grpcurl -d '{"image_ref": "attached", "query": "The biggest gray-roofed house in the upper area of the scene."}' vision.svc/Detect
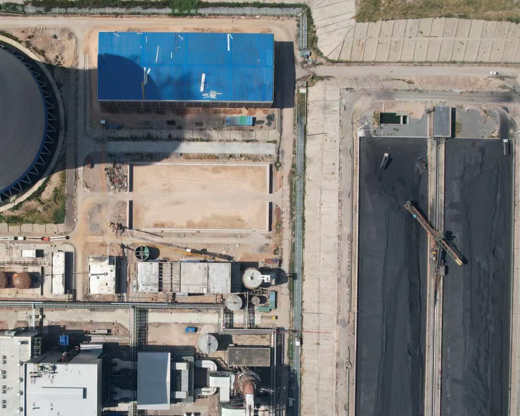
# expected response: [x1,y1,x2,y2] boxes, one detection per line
[427,107,451,138]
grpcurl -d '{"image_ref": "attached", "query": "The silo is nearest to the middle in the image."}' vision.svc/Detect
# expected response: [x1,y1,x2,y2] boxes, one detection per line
[240,268,278,289]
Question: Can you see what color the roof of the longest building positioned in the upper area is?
blue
